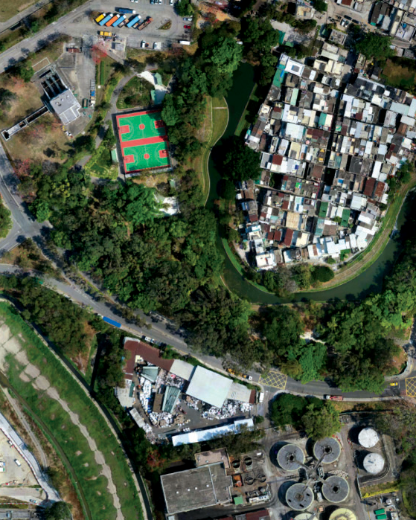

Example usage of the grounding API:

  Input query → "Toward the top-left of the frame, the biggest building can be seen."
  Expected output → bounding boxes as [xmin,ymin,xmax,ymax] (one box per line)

[50,88,82,124]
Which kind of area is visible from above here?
residential area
